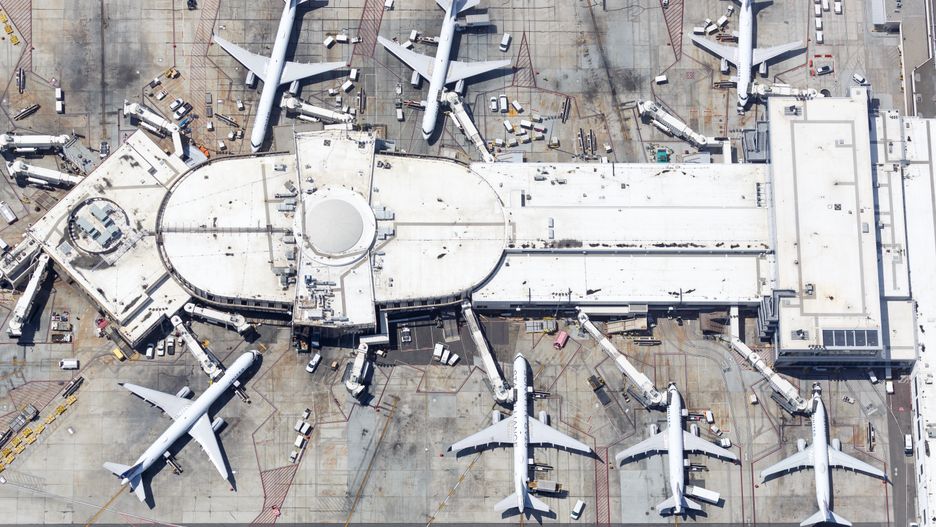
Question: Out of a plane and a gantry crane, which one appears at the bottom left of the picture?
plane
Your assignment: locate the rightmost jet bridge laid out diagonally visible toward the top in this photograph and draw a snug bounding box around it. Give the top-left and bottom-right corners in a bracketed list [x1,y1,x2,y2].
[637,100,707,153]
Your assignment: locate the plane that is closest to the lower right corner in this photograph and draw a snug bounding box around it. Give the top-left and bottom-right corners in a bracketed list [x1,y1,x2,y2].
[761,388,887,527]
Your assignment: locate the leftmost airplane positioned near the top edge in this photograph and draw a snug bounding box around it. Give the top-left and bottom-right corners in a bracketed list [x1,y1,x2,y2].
[208,0,346,152]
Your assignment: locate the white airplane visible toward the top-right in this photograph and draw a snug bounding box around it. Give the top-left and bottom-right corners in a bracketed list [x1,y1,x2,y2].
[688,0,802,104]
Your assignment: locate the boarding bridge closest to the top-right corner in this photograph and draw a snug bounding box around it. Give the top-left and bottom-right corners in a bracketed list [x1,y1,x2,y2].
[751,82,818,99]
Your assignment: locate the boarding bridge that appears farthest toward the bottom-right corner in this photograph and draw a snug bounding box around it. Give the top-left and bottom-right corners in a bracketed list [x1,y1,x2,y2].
[730,337,815,412]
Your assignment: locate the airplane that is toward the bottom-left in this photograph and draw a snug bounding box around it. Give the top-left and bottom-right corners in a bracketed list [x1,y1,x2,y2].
[105,353,258,500]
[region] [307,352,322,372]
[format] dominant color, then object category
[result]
white vehicle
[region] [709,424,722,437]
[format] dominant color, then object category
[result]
white vehicle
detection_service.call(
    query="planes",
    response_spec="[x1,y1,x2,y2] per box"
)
[688,0,802,104]
[372,0,508,140]
[105,353,258,500]
[208,0,346,152]
[448,354,591,513]
[616,385,739,515]
[761,388,887,527]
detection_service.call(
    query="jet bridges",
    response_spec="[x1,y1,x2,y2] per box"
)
[7,160,88,190]
[125,101,180,137]
[185,303,251,336]
[8,253,53,336]
[730,337,815,412]
[440,90,495,163]
[751,82,818,99]
[278,93,356,128]
[578,313,668,406]
[462,301,516,403]
[344,342,369,396]
[637,100,707,153]
[170,315,225,383]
